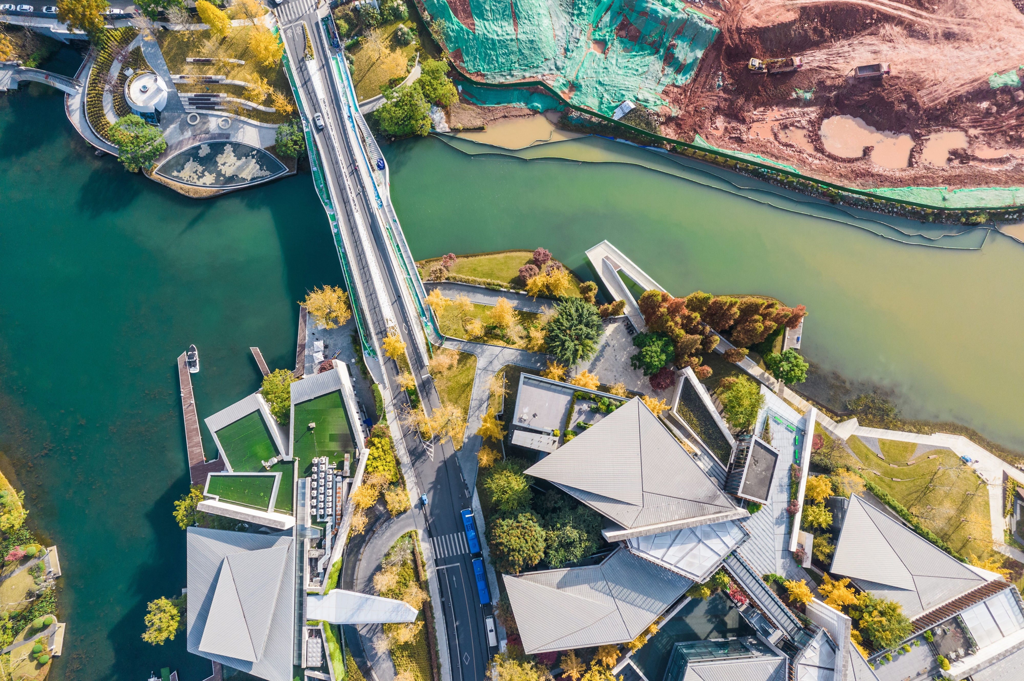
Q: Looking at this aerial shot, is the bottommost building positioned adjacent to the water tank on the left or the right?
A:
left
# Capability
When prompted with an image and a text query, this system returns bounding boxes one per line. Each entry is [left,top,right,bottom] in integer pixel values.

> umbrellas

[313,340,325,352]
[313,351,324,363]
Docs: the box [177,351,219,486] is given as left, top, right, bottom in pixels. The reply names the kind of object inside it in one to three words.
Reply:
pier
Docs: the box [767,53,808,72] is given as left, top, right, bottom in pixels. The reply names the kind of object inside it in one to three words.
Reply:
vehicle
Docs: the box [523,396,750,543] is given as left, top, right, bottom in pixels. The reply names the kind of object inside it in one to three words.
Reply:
building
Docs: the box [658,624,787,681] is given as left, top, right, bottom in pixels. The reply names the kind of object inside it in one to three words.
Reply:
building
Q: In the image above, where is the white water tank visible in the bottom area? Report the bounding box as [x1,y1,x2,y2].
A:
[307,634,325,667]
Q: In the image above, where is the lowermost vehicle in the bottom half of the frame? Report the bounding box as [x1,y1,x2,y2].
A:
[484,612,498,647]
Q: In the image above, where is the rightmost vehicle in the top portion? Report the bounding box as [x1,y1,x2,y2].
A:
[856,59,898,78]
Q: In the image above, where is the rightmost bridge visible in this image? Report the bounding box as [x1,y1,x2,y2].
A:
[274,0,440,389]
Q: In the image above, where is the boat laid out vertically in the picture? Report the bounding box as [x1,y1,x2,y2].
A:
[186,345,199,373]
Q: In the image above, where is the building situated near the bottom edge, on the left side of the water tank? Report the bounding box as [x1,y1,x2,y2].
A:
[182,524,312,681]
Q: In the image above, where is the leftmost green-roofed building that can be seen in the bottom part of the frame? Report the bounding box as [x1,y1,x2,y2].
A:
[196,392,298,530]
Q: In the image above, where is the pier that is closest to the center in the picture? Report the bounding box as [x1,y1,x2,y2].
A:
[584,239,673,325]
